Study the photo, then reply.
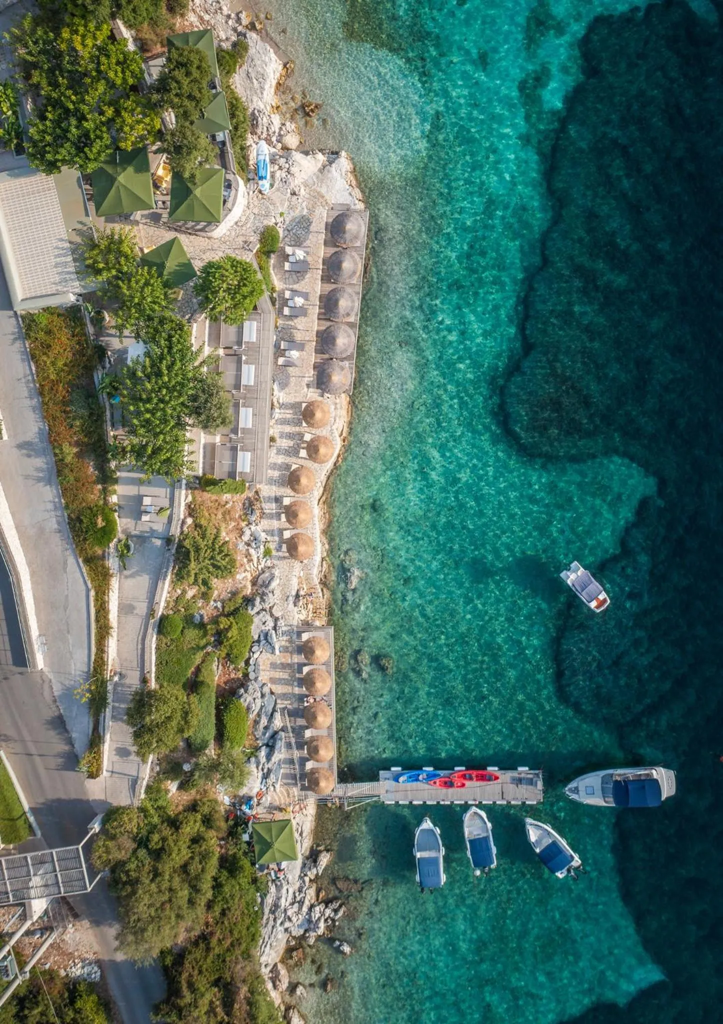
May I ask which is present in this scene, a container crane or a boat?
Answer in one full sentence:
The image shows a boat.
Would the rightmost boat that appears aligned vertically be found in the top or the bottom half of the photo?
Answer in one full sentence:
It is in the bottom half that the rightmost boat that appears aligned vertically appears.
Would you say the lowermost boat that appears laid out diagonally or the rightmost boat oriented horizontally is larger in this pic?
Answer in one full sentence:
Of the two, the rightmost boat oriented horizontally is larger and the lowermost boat that appears laid out diagonally is the smaller one.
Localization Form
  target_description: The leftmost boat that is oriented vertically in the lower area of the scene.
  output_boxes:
[413,806,445,891]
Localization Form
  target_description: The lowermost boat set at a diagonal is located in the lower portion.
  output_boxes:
[523,804,584,880]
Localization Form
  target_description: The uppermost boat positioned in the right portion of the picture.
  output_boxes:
[556,556,608,611]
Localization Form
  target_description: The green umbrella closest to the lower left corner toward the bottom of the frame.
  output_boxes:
[253,818,298,864]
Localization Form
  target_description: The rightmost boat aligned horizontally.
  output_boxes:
[563,768,676,813]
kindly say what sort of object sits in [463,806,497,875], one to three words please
boat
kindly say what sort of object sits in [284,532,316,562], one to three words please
umbrella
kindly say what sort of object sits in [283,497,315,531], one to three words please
umbrella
